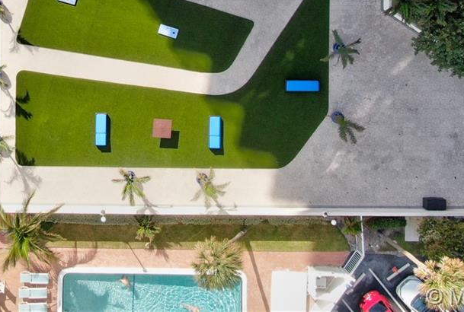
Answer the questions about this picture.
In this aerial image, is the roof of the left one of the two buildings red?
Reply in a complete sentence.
No, the roof of the left one of the two buildings is actually white.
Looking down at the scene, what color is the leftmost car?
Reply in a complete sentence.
In this view, the leftmost car is red.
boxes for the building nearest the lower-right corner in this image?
[301,258,355,312]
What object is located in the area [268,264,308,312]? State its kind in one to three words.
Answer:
building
